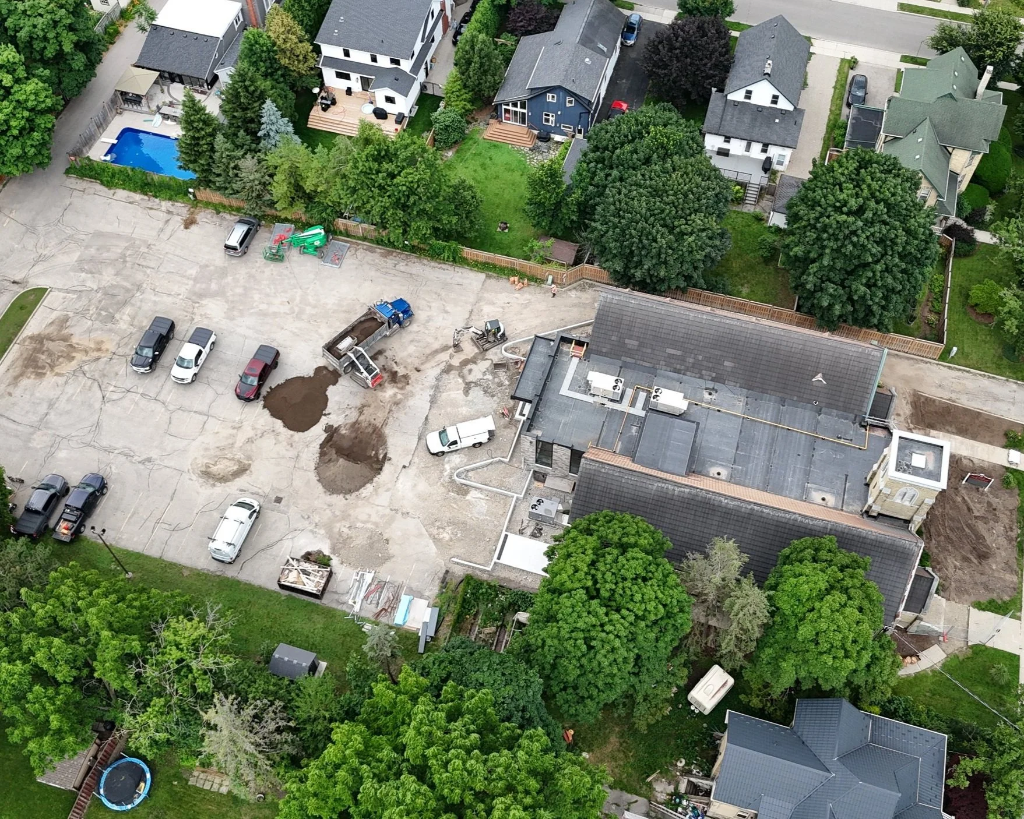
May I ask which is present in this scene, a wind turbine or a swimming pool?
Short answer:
swimming pool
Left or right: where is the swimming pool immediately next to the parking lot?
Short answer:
left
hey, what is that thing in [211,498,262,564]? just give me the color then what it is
white van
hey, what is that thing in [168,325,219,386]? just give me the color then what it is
white truck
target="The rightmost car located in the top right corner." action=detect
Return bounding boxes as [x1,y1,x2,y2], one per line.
[847,68,871,103]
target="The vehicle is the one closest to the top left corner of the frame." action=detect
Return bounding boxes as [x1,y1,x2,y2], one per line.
[222,213,262,257]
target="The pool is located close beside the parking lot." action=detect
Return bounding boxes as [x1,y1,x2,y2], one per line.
[98,126,197,184]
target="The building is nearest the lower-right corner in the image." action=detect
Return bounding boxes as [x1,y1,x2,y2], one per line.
[710,695,948,819]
